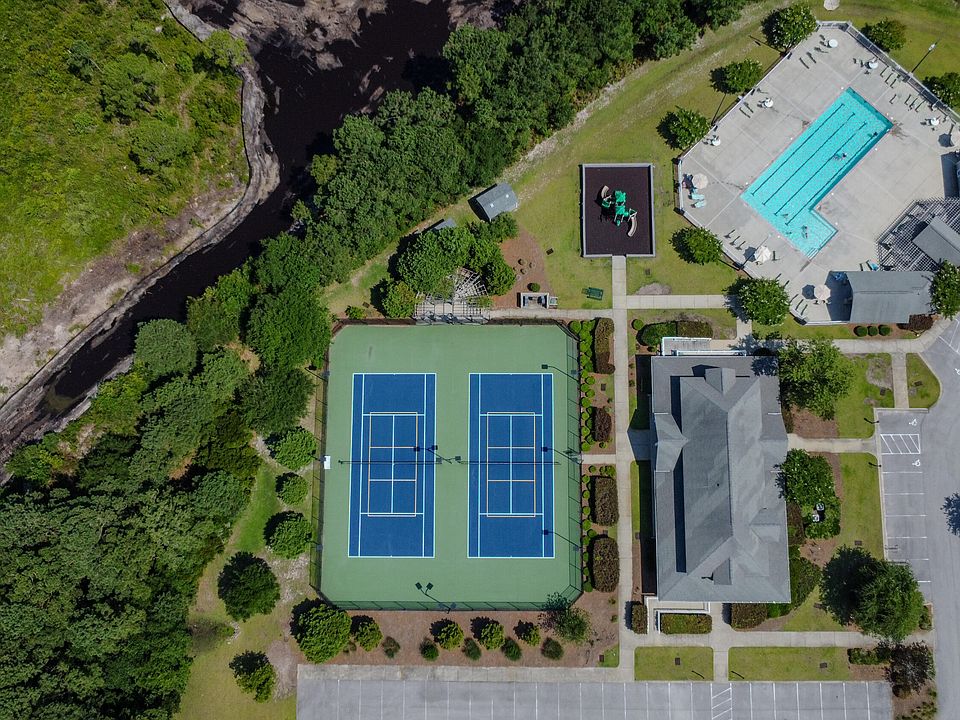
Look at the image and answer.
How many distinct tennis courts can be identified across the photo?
2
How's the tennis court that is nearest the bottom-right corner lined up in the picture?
from top to bottom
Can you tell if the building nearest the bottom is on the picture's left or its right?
right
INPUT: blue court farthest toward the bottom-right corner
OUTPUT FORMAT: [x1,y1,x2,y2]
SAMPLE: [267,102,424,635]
[469,373,560,558]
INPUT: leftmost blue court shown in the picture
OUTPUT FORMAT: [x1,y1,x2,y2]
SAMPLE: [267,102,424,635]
[338,373,436,558]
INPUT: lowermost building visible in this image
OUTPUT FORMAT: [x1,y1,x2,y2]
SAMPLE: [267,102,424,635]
[645,338,791,634]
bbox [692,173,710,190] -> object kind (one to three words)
umbrella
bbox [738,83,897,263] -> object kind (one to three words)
swimming pool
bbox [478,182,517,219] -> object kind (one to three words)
shed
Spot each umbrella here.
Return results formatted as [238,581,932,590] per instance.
[755,247,772,264]
[692,173,710,190]
[946,130,960,148]
[812,283,831,302]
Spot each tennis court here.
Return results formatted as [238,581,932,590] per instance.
[469,373,560,558]
[338,373,436,558]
